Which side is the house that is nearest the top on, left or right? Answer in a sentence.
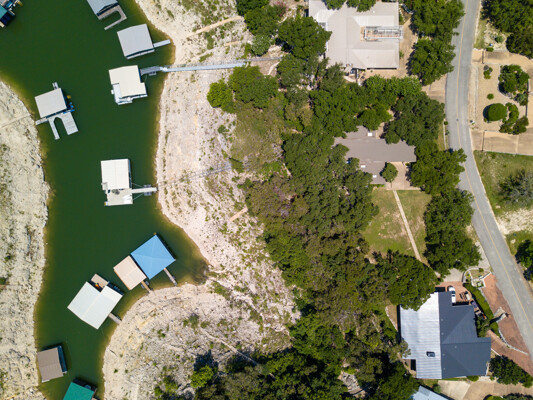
The house that is nearest the top sits on the right side.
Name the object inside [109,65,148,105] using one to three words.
pier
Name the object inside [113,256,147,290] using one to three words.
pier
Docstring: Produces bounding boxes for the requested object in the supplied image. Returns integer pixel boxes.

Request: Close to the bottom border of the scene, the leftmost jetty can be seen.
[37,344,68,384]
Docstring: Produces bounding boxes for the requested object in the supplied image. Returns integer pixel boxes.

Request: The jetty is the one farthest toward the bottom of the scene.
[65,377,100,400]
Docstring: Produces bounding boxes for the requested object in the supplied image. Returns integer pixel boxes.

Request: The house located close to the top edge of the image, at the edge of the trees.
[308,0,404,77]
